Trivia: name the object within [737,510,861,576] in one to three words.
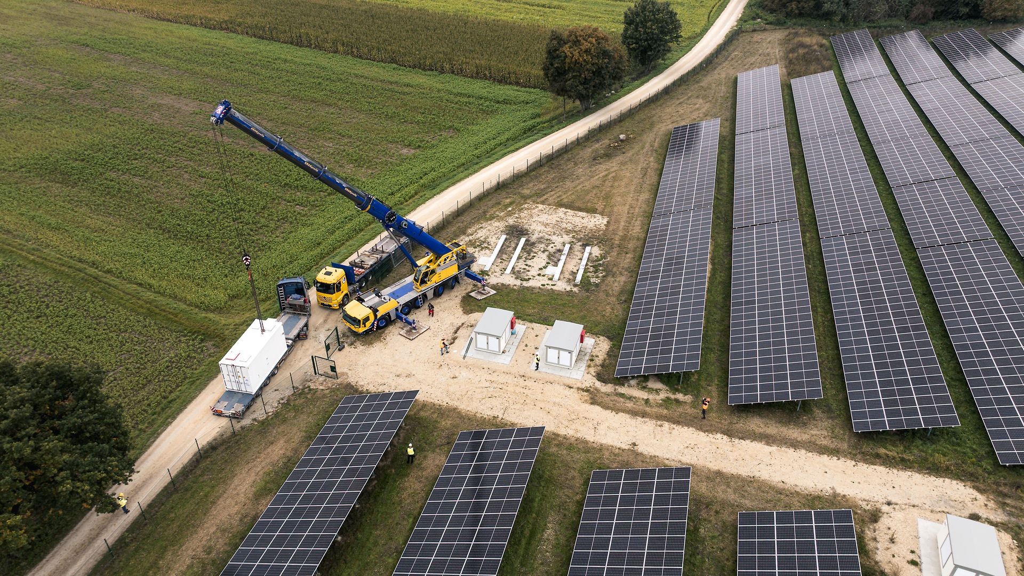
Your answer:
solar array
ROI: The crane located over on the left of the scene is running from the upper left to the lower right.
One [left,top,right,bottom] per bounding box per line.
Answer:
[208,103,484,336]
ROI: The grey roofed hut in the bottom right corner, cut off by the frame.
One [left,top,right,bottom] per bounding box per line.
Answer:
[939,511,1005,576]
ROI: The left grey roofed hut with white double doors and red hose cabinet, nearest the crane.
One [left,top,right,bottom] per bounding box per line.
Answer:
[472,302,517,354]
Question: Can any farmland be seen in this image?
Yes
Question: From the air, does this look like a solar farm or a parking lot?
solar farm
